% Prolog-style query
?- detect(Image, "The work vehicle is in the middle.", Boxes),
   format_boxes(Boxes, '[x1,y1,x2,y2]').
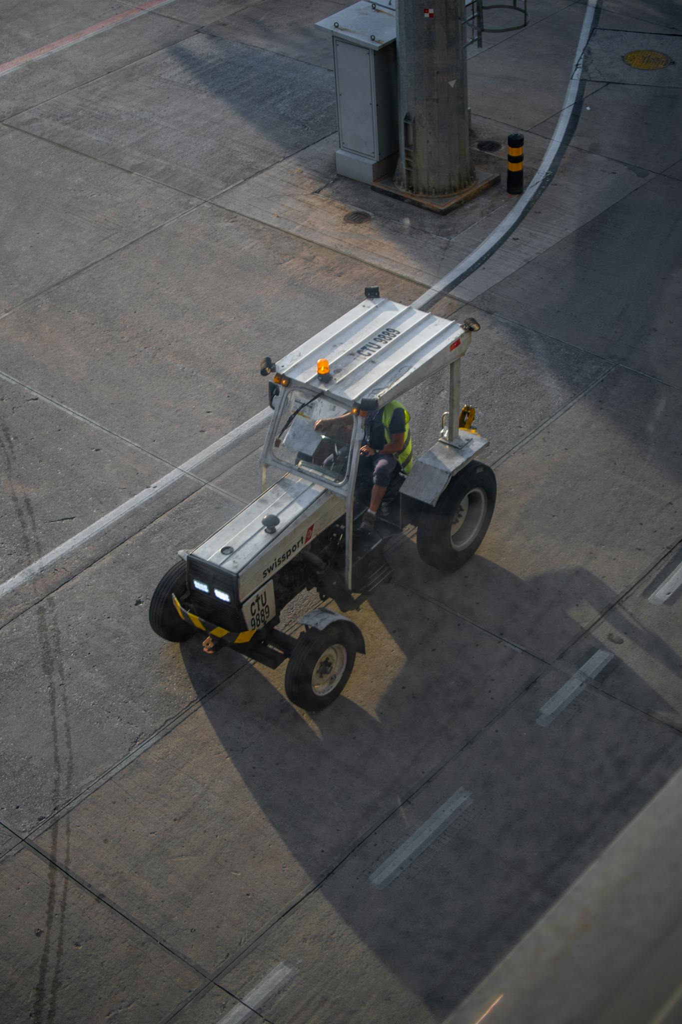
[147,281,498,715]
